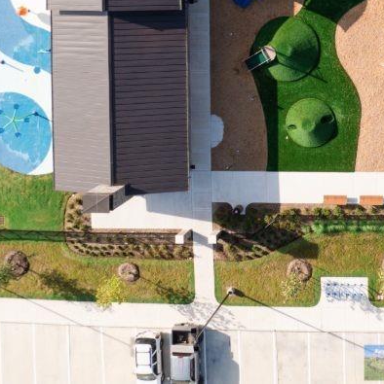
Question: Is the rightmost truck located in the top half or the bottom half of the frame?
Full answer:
You can find the rightmost truck in the bottom half.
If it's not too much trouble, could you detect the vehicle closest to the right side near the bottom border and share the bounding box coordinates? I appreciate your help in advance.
[169,326,204,384]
